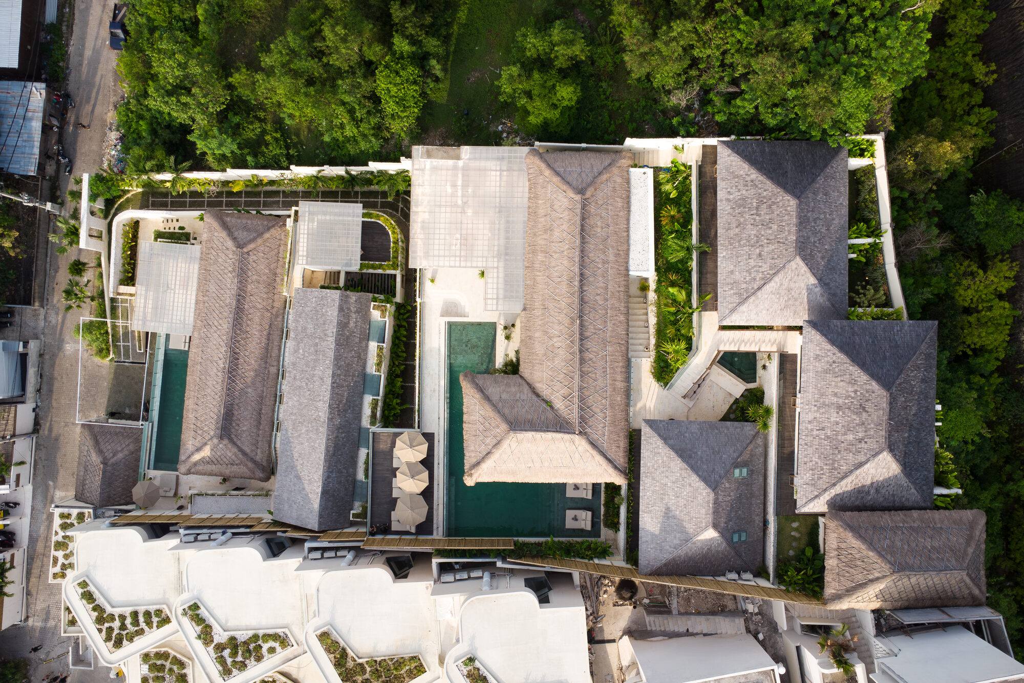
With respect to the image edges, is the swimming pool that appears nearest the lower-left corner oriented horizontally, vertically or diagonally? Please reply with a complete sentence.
The swimming pool that appears nearest the lower-left corner runs vertically in the image.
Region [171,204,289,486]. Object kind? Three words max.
house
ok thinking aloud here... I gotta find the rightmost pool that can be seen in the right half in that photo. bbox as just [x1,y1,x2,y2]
[722,354,756,383]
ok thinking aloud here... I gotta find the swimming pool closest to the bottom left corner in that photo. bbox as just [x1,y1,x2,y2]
[150,335,189,469]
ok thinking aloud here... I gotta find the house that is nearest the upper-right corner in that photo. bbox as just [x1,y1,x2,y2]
[716,140,849,327]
